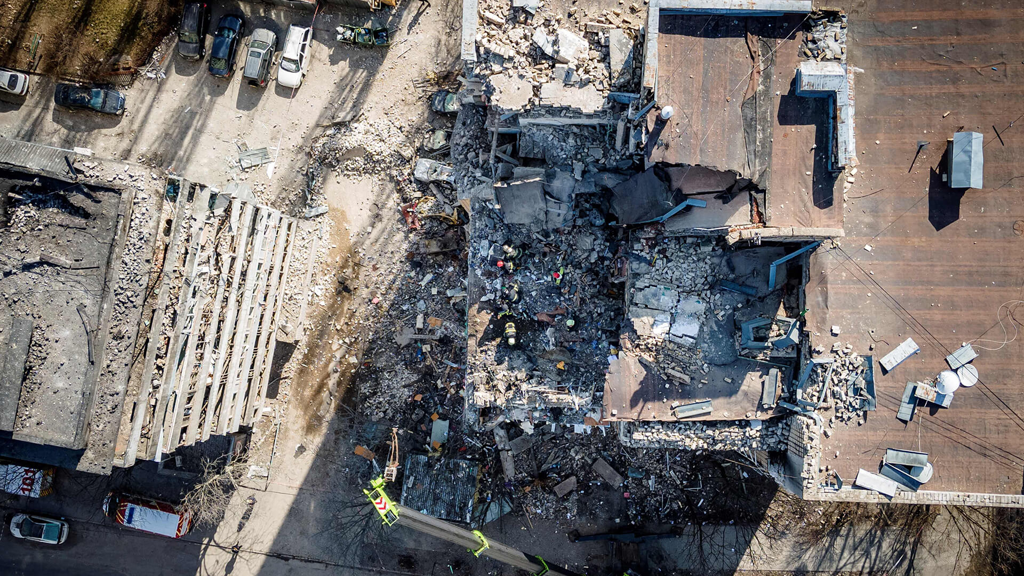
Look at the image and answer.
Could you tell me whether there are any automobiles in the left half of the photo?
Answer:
Yes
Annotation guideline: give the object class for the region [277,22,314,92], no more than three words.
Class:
car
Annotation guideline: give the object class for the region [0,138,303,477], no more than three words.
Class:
building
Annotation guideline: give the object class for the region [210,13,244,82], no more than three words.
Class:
car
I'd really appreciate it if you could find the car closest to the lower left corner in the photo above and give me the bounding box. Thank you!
[9,511,73,543]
